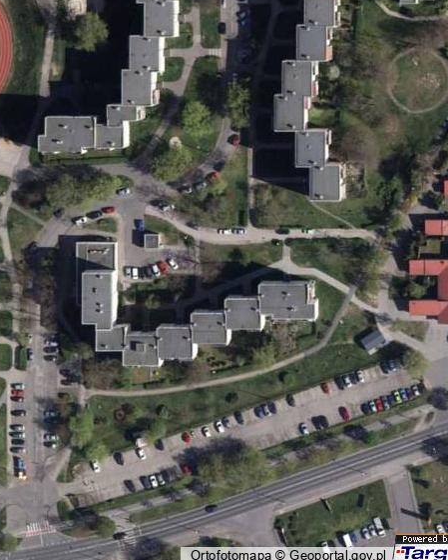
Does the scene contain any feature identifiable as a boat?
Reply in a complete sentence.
No, there isn't any boat down there.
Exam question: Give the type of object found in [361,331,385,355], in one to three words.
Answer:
shed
